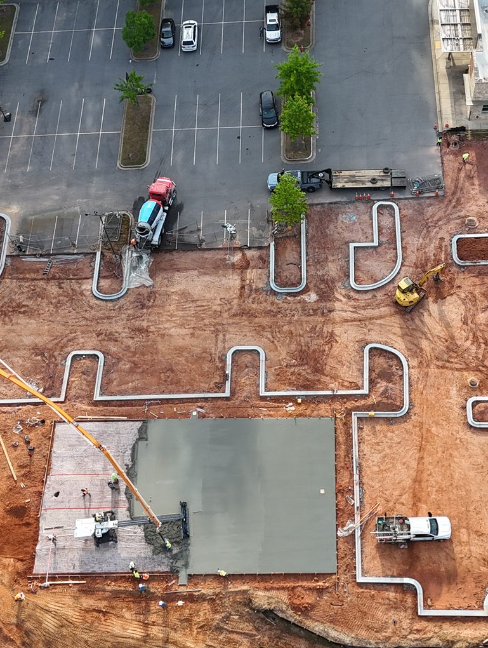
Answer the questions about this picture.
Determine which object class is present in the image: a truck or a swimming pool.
truck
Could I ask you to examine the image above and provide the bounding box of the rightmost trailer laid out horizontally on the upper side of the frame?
[313,163,408,186]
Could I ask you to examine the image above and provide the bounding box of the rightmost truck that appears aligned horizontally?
[374,513,451,544]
